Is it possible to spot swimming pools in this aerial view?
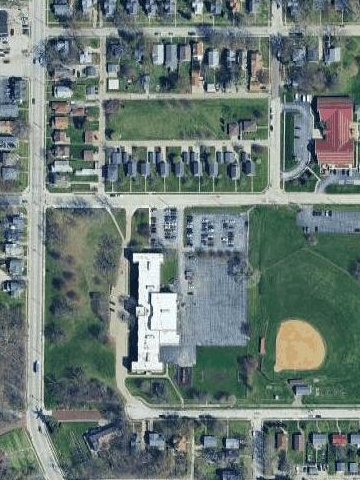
No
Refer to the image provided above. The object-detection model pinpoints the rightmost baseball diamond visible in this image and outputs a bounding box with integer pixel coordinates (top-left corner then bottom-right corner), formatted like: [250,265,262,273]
[261,249,360,380]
